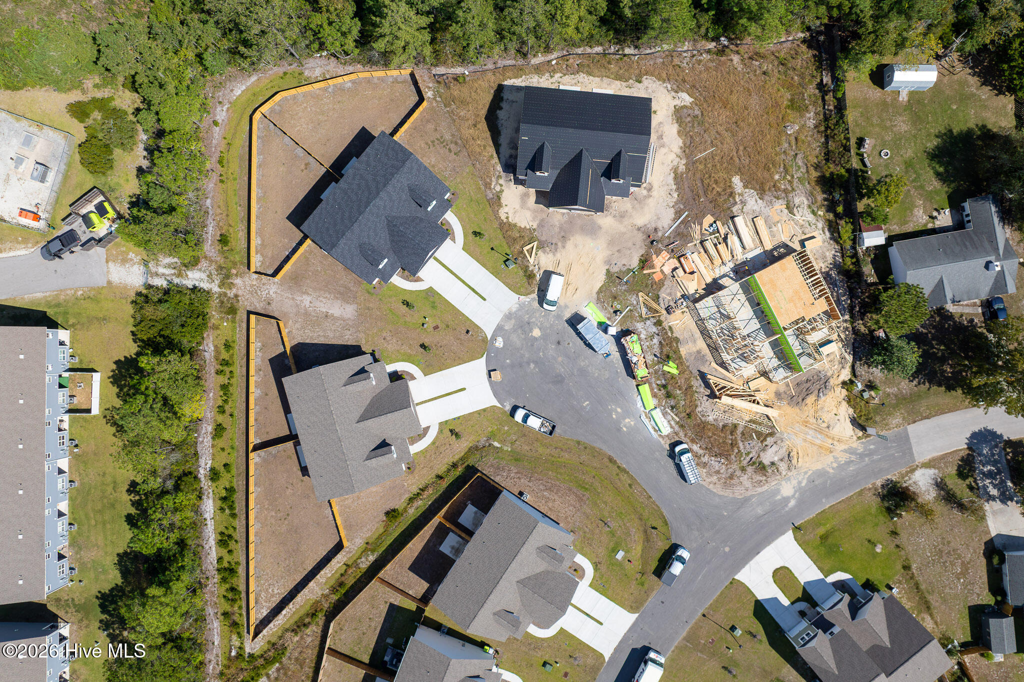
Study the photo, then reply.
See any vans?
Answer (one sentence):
Yes, the photo shows a van.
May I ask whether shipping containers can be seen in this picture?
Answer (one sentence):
Yes, the photo shows a shipping container.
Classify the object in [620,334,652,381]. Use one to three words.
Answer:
shipping container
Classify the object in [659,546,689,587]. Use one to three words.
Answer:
truck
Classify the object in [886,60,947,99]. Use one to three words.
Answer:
shed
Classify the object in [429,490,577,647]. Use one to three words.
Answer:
house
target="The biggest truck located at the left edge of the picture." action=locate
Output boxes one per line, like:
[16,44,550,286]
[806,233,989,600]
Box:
[43,230,84,260]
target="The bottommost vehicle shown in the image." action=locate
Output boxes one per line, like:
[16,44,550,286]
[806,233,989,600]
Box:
[634,649,664,682]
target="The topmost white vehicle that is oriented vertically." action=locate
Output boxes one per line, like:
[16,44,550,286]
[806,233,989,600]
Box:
[542,270,565,313]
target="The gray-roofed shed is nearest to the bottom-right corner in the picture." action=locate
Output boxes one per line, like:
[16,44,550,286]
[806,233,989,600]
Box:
[983,618,1018,661]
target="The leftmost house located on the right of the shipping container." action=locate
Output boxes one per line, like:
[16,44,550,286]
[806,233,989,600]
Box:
[692,247,842,384]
